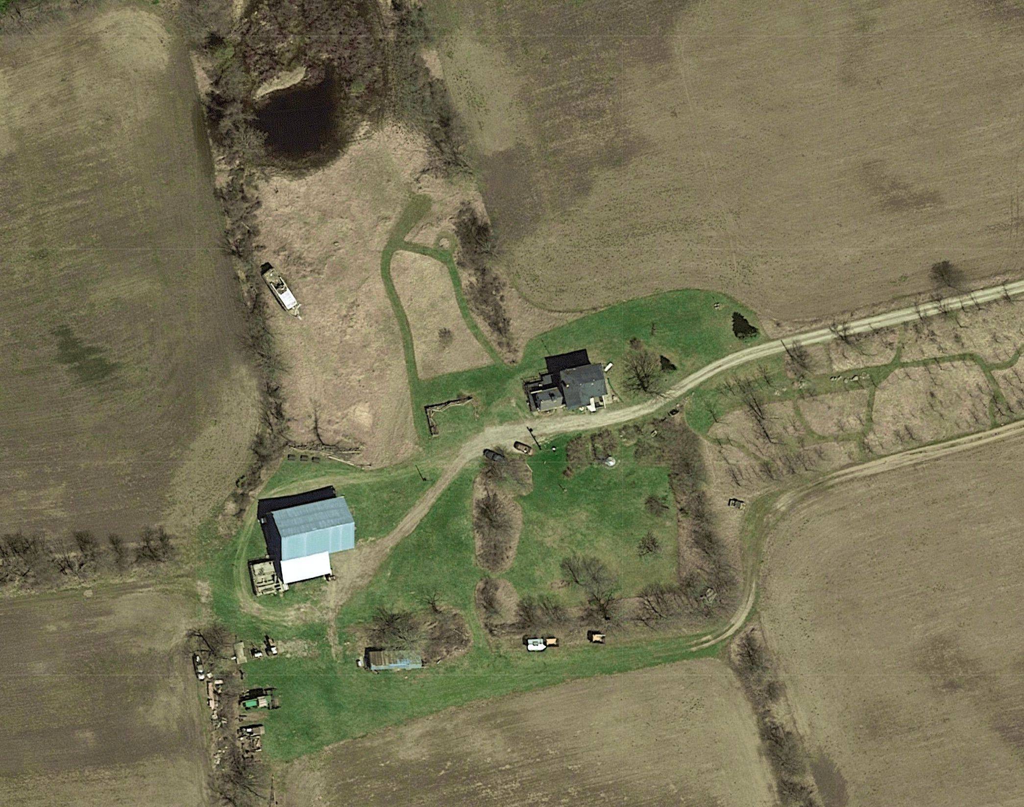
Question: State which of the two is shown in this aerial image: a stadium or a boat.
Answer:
boat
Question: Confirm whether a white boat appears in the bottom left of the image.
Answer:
No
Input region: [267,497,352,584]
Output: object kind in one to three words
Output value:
barn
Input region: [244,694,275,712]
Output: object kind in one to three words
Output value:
work vehicle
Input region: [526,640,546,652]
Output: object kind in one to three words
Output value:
vehicle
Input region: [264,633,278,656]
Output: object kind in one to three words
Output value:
work vehicle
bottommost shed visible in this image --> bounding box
[366,650,421,671]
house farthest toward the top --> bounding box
[524,363,607,412]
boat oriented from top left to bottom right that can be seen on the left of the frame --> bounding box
[262,268,301,319]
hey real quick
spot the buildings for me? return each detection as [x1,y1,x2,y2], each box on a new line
[267,497,352,584]
[524,363,607,412]
[366,650,421,671]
